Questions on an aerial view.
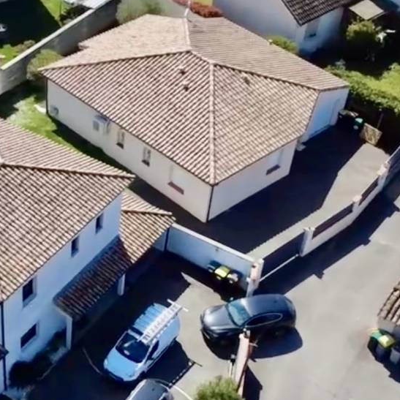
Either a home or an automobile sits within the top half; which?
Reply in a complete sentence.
Visible within the top half is a home.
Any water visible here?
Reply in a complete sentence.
No, there is no water in the image.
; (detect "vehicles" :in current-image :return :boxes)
[106,307,178,393]
[198,297,296,346]
[127,379,175,400]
